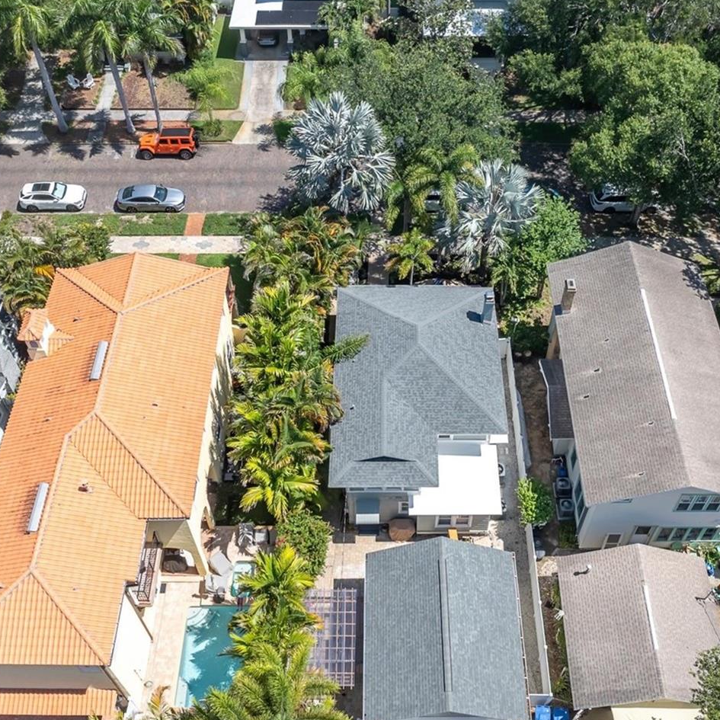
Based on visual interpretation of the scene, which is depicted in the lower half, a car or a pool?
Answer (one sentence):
There is a pool in the lower half.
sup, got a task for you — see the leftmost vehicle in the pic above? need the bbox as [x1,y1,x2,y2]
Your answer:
[13,179,88,213]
